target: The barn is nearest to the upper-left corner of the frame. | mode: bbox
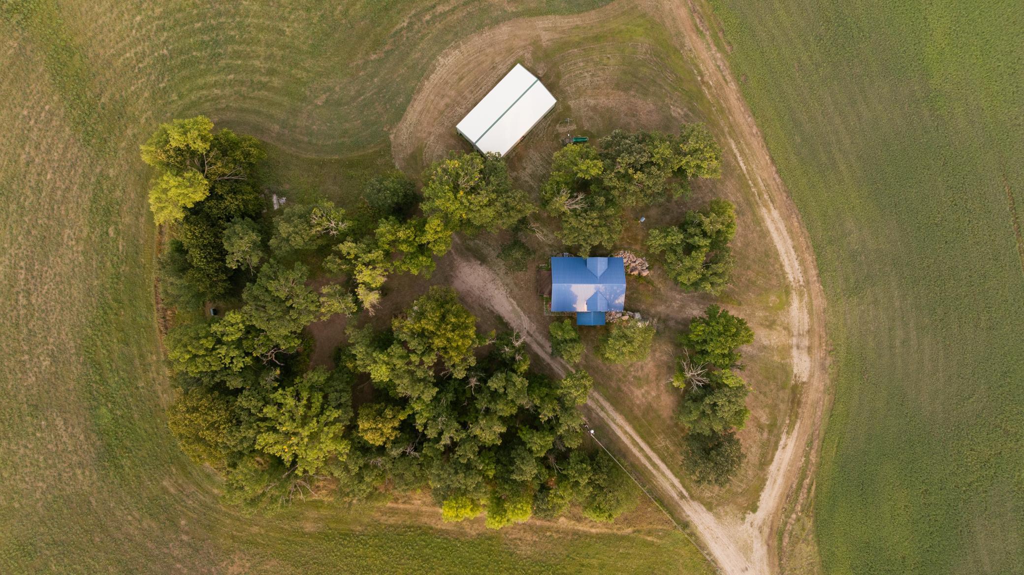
[456,63,557,157]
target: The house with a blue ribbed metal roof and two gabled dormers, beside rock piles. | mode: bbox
[539,257,627,328]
